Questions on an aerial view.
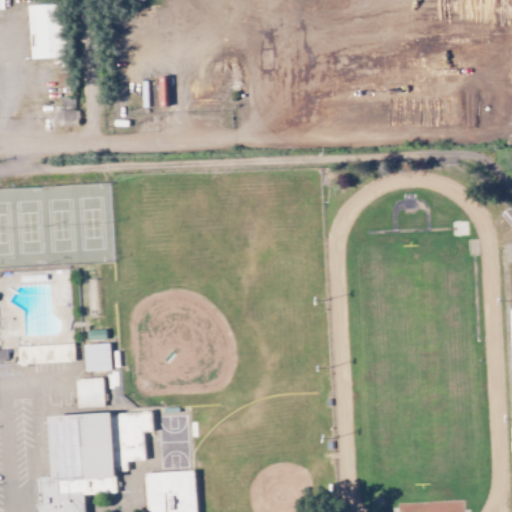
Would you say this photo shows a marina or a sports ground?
sports ground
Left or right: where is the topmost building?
left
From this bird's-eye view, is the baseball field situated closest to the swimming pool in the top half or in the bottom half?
bottom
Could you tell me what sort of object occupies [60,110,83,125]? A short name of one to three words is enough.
house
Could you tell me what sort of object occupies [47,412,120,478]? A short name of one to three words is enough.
building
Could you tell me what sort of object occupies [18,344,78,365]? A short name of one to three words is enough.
building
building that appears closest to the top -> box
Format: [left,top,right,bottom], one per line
[28,4,66,60]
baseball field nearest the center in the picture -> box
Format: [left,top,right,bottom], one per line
[131,288,238,397]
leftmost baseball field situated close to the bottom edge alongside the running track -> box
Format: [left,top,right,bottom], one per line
[252,463,315,512]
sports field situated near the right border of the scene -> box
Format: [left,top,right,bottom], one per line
[345,188,492,512]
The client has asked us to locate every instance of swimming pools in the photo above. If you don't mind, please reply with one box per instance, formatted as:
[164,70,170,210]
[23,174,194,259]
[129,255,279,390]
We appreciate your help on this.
[0,266,74,352]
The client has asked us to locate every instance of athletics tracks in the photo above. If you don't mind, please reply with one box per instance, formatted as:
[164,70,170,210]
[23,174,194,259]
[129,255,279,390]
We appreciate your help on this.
[329,172,510,512]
